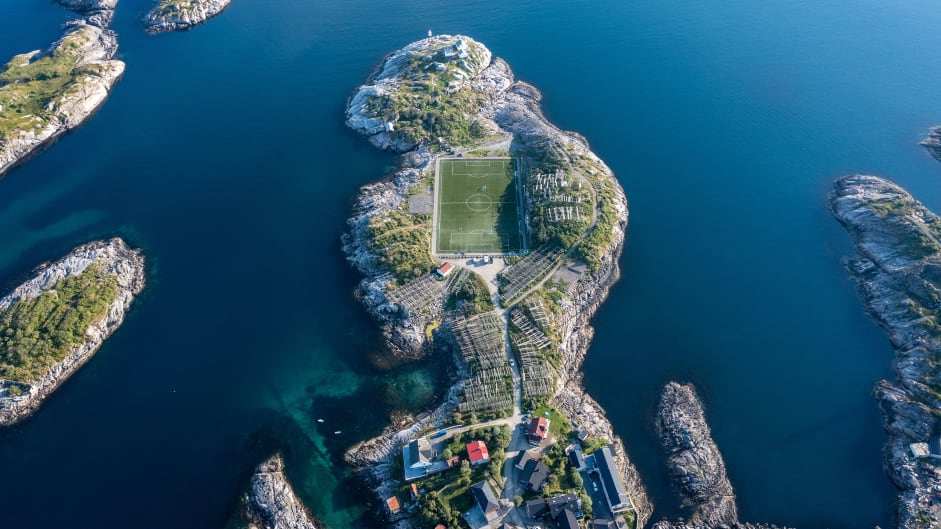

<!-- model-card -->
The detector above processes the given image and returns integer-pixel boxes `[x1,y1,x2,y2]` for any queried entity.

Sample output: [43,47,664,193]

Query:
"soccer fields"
[432,158,527,255]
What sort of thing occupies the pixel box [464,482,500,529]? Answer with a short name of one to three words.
house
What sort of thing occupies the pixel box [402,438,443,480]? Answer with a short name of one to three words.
house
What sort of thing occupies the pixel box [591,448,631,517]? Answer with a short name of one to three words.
building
